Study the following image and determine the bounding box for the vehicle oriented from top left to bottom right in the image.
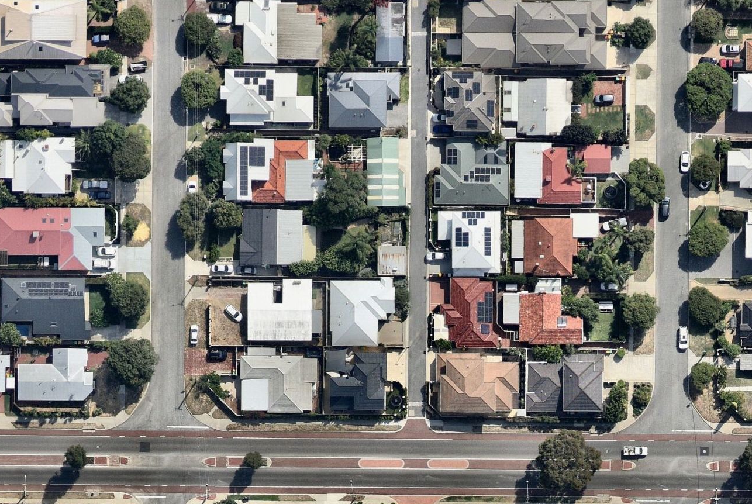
[224,303,241,321]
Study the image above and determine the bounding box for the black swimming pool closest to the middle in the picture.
[328,142,347,161]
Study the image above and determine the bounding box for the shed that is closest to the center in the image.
[378,245,406,276]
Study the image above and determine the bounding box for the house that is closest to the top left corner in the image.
[0,0,88,59]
